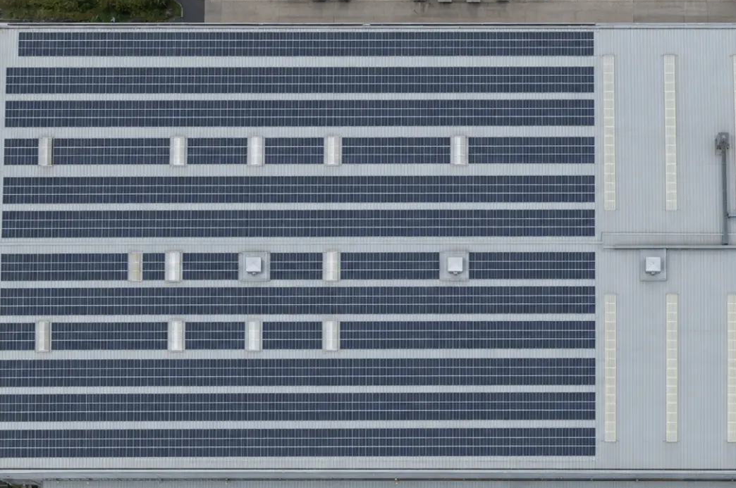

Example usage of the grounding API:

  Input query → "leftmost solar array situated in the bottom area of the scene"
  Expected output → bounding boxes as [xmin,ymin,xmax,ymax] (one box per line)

[0,322,35,349]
